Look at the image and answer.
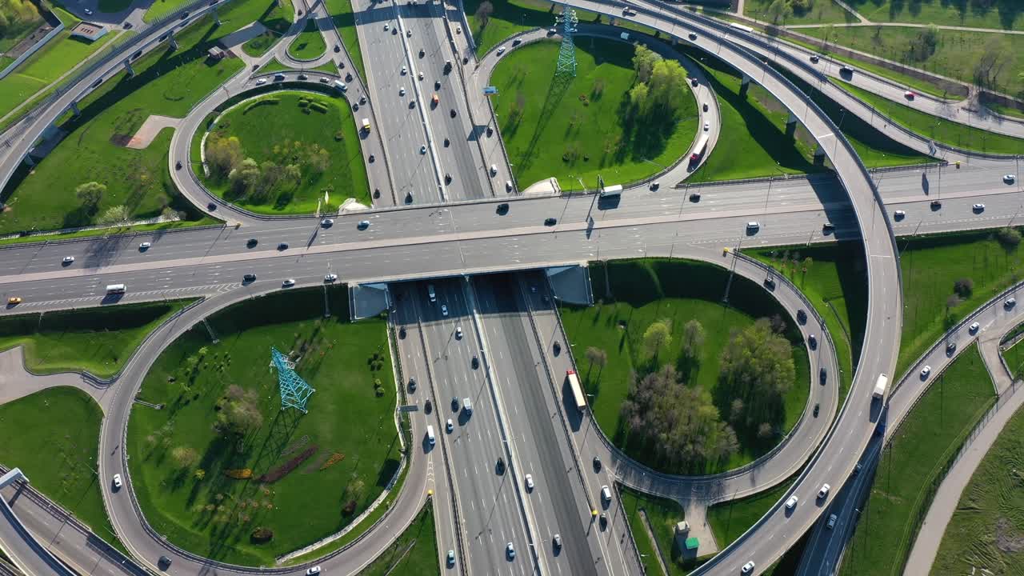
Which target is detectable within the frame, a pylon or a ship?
pylon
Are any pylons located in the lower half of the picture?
Yes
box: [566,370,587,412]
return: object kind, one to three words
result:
truck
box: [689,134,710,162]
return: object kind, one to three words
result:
truck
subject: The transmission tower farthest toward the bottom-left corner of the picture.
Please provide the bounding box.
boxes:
[269,345,317,416]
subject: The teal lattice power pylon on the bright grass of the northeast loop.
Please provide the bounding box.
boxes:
[555,6,581,77]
